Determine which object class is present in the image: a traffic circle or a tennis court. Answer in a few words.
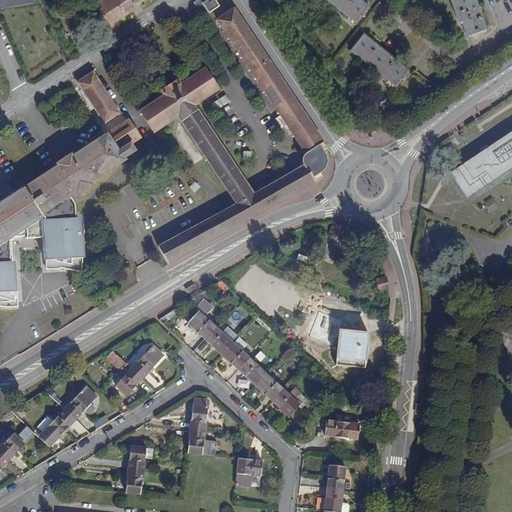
traffic circle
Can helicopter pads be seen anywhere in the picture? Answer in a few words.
No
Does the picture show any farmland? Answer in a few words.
No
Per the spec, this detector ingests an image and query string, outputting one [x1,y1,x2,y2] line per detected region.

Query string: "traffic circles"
[334,148,406,220]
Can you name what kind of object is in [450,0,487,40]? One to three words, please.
building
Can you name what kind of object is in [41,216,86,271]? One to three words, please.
building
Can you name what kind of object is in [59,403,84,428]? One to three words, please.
house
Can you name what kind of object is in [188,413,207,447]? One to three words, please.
house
